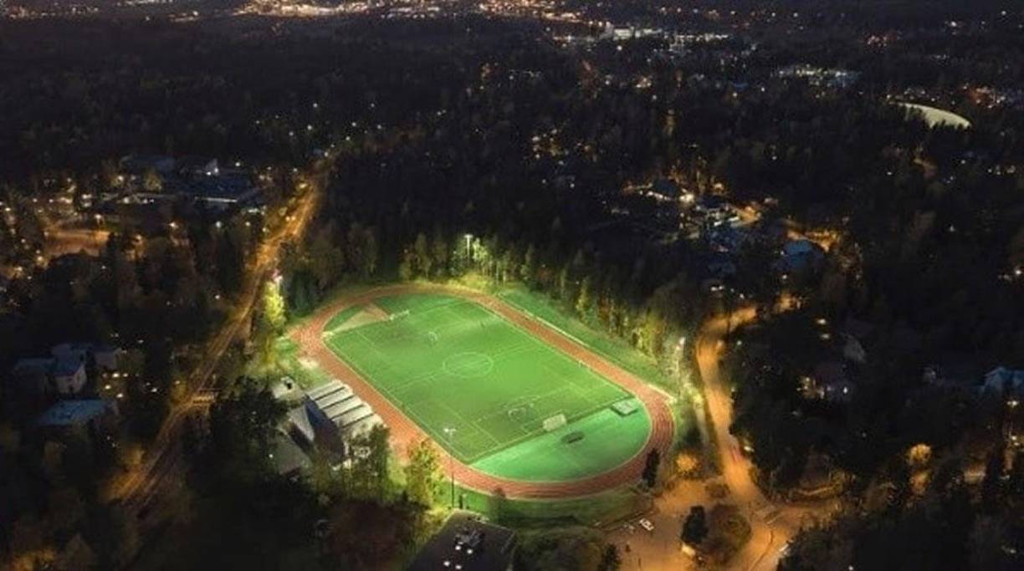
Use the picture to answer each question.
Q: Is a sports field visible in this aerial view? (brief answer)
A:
Yes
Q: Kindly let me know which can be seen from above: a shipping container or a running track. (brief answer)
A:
running track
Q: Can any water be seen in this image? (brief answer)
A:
No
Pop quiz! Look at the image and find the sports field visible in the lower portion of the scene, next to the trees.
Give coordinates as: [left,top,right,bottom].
[323,296,637,468]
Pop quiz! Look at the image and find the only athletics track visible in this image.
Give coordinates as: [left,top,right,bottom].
[304,284,676,500]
